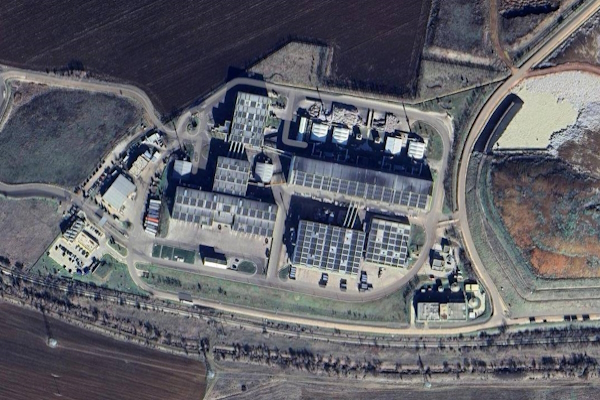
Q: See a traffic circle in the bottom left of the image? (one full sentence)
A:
No, looking in the bottom left of the image, there is no traffic circle.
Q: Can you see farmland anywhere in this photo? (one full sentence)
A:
Yes, there's farmland in this view.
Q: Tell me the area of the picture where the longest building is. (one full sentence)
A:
The longest building is in the center part of the image.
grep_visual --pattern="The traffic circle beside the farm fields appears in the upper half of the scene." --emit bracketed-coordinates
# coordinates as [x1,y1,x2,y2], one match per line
[179,111,206,142]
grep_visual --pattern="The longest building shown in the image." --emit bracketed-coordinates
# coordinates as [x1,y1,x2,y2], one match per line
[287,156,434,212]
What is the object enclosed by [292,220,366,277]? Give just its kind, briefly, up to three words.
building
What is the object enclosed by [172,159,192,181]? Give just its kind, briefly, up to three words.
shed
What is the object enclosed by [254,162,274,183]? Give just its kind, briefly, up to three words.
shed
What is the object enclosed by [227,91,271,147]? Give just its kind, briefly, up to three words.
building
